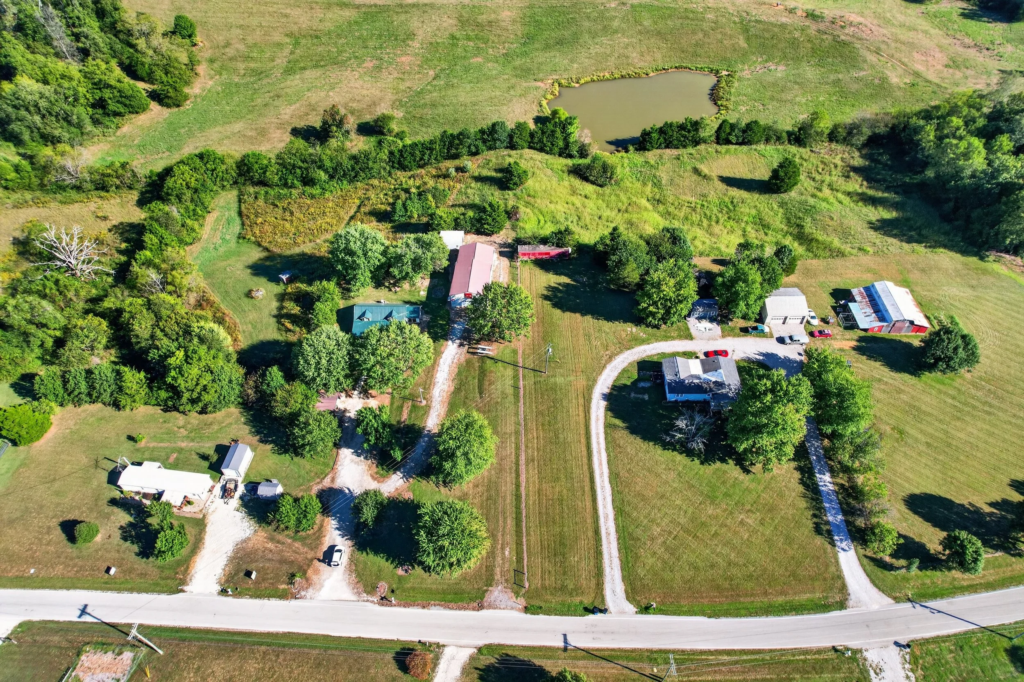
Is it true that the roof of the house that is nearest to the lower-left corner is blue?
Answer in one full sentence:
No, the color of the roof of the house that is nearest to the lower-left corner is white.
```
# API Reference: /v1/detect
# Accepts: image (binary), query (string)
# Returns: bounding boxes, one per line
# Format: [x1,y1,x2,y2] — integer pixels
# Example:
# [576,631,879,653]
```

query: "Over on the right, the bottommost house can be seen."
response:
[661,354,739,413]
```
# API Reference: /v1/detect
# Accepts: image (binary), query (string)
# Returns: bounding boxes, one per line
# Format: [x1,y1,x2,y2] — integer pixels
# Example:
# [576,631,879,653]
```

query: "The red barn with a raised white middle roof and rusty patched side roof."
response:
[845,278,931,334]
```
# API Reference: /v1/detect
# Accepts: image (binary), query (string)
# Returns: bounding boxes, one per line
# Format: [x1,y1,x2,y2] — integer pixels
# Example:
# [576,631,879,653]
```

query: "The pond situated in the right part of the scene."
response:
[550,71,719,152]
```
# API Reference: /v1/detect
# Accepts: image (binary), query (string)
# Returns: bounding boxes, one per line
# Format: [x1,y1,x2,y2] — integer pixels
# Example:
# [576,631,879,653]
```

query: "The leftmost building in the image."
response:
[117,461,219,512]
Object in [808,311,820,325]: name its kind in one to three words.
vehicle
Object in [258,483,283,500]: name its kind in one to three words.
shed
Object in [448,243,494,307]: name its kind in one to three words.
building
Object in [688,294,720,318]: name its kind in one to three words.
shed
